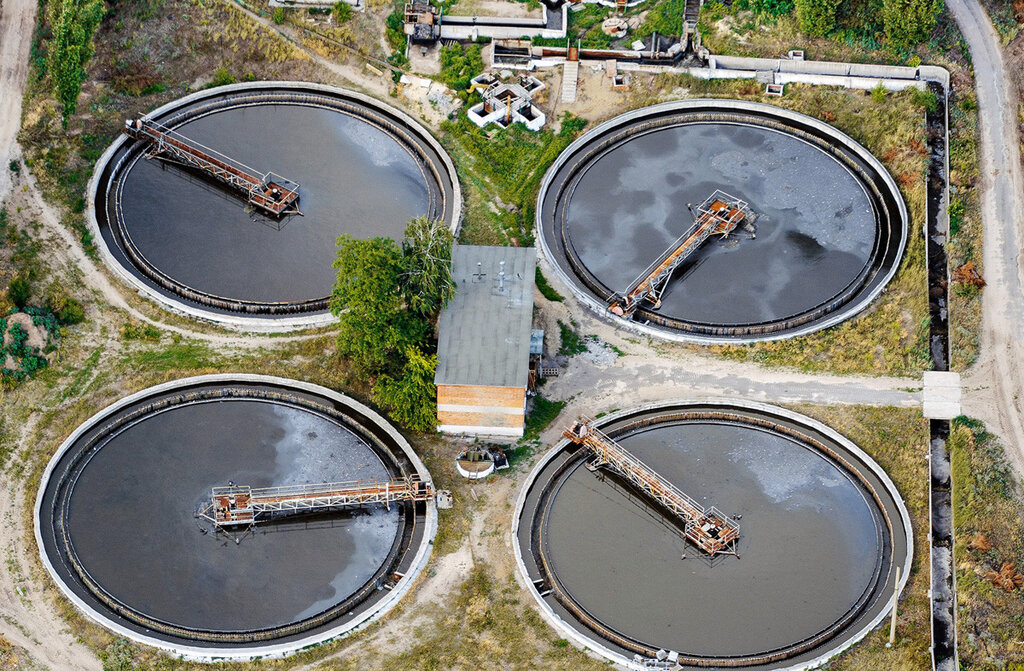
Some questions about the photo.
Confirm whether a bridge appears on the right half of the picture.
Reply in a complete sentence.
Yes, there is a bridge on the right half of the picture.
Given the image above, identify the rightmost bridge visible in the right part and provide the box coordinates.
[922,373,961,420]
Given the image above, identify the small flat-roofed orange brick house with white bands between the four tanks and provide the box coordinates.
[435,246,543,436]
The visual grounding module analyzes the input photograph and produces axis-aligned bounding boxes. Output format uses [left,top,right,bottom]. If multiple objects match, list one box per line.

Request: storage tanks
[31,376,437,661]
[536,99,909,348]
[87,81,461,329]
[514,398,914,671]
